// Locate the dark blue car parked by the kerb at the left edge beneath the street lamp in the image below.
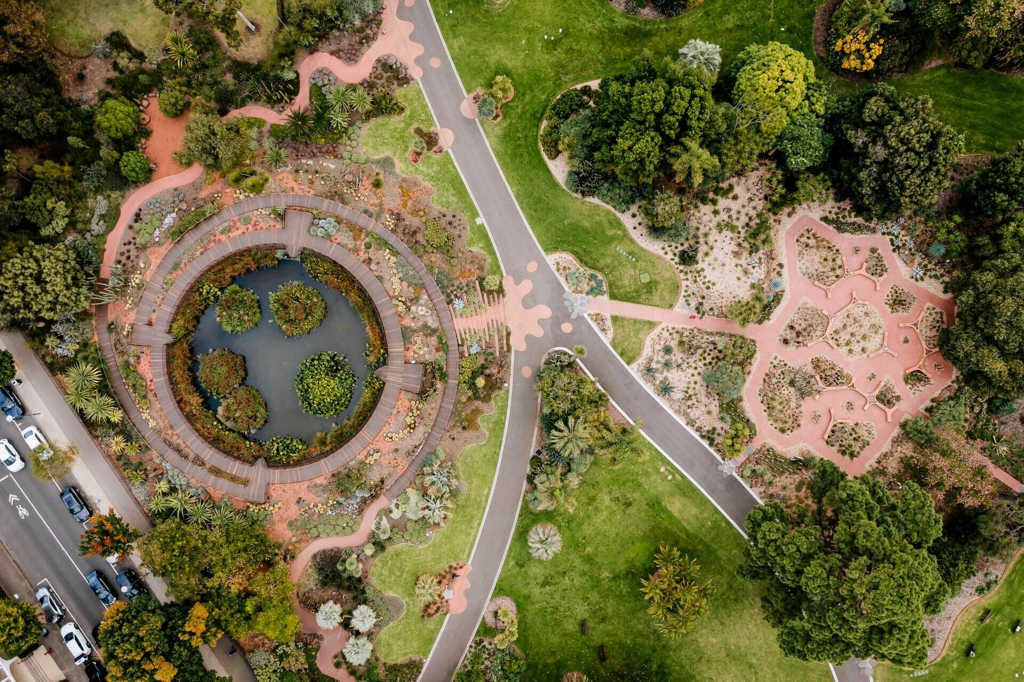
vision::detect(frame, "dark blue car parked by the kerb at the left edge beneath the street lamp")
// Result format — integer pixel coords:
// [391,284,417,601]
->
[0,385,28,426]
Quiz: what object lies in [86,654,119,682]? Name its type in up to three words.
car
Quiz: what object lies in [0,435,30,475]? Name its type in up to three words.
car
